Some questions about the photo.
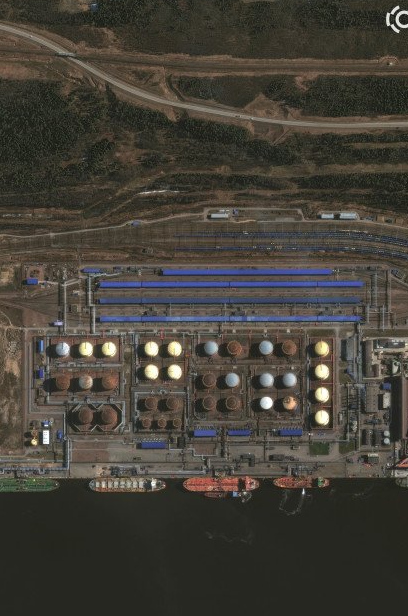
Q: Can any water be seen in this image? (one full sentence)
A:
Yes, there's water in this view.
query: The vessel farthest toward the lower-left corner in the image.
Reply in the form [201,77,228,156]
[0,477,59,492]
